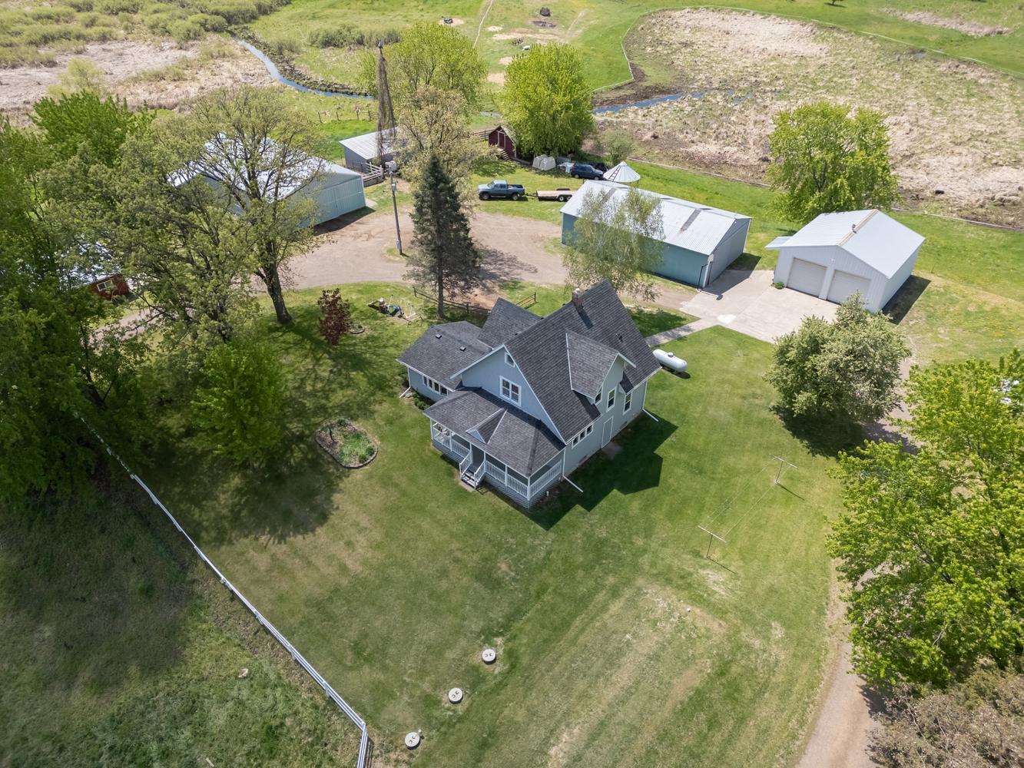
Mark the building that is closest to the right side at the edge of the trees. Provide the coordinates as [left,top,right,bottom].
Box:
[764,208,926,314]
